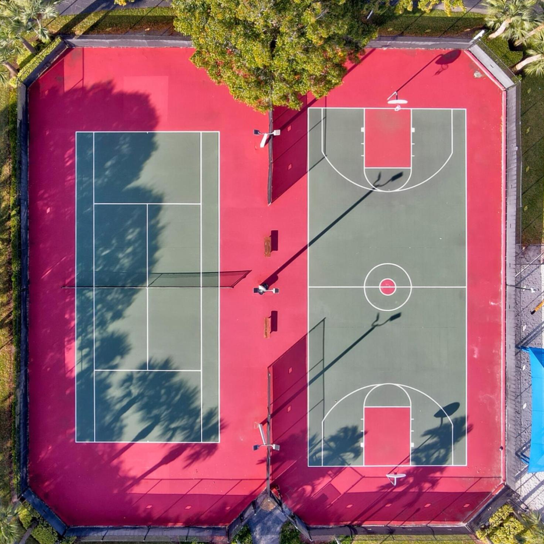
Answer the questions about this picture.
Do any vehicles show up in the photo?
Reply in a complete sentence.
No, the picture doesn't show any vehicle.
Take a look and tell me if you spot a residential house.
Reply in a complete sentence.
No, there's no residential house here.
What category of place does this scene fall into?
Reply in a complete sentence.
It's a sports ground.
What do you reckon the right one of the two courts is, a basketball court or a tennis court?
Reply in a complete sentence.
I'd say the right one of the two courts is a basketball court.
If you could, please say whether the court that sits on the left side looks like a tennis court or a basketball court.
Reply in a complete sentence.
The court that sits on the left side appears to be a tennis court.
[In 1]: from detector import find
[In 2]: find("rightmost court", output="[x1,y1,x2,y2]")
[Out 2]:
[269,48,506,526]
